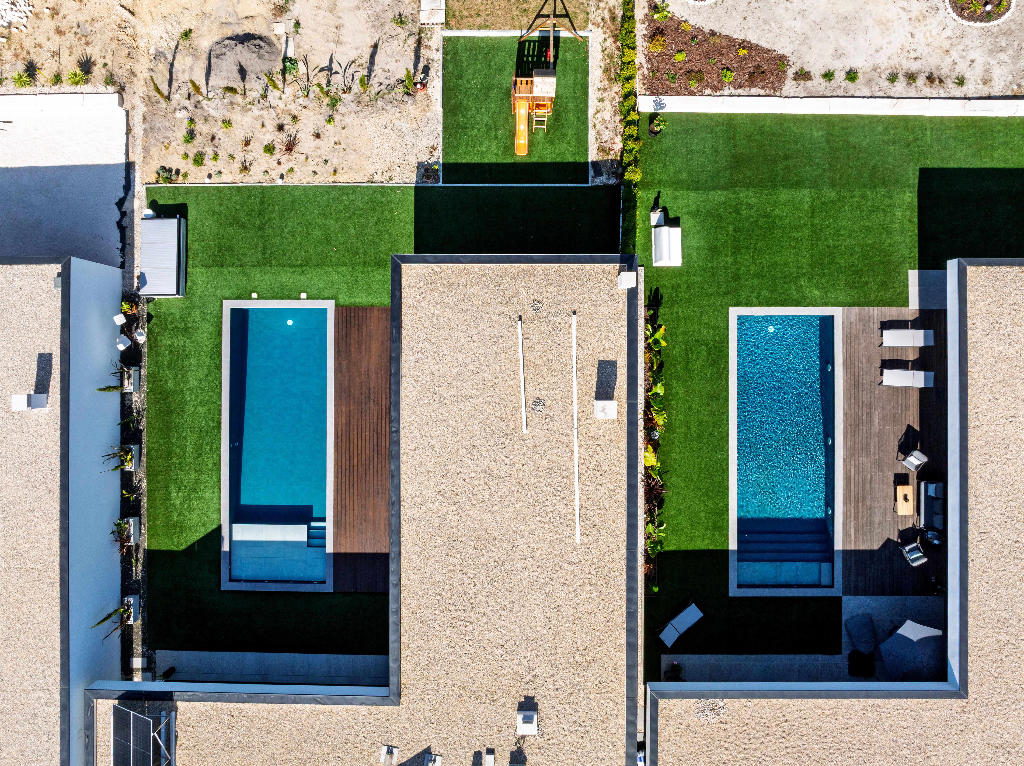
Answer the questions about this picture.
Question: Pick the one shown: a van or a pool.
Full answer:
The one in the frame is a pool.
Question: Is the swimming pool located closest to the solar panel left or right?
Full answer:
You can find the swimming pool located closest to the solar panel on the left side of the picture.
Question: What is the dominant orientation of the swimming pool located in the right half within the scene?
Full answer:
The swimming pool located in the right half runs from top to bottom in the image.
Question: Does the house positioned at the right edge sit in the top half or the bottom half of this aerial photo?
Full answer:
The bottom half of the photo is where the house positioned at the right edge is.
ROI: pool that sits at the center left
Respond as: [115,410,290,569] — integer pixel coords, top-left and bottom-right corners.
[222,300,334,591]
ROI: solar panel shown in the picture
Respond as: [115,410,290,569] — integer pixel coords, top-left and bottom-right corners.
[111,704,174,766]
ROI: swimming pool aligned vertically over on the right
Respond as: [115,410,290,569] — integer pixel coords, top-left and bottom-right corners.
[729,307,842,596]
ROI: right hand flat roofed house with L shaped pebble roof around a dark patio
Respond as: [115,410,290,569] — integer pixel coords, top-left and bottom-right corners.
[643,259,1024,766]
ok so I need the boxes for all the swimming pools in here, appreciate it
[222,300,334,591]
[729,307,842,596]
